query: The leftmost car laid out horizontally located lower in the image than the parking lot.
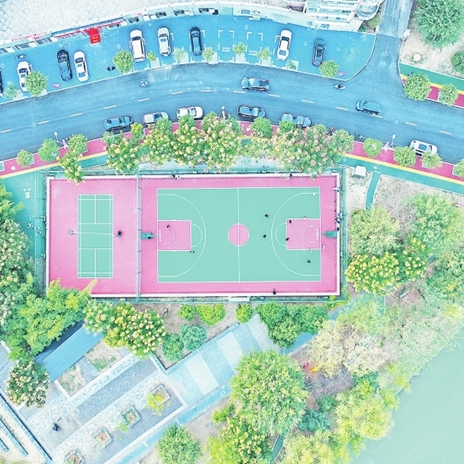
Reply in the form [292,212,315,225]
[103,115,134,131]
